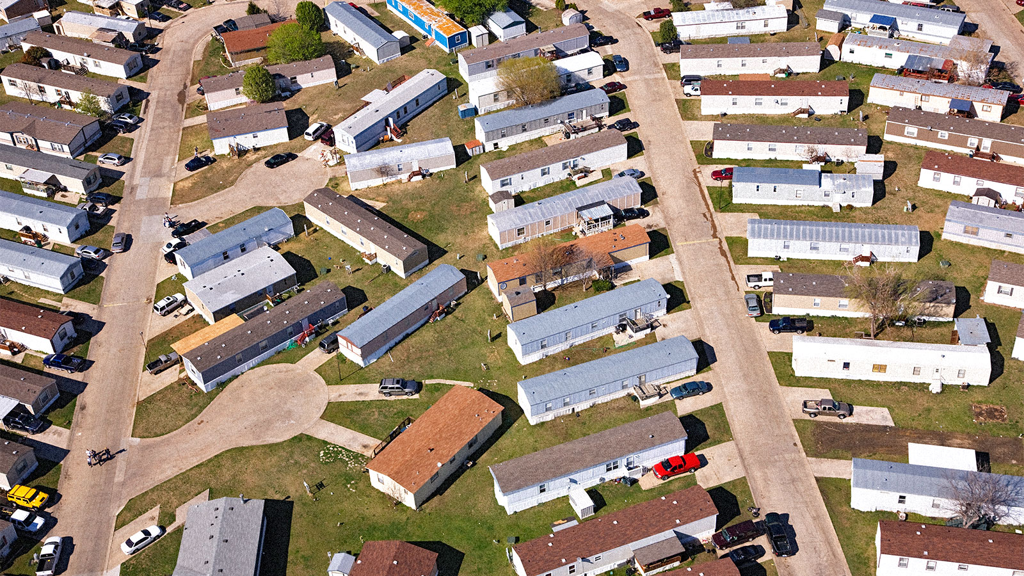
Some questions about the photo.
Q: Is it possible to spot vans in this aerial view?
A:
Yes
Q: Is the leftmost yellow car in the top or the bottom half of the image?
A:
bottom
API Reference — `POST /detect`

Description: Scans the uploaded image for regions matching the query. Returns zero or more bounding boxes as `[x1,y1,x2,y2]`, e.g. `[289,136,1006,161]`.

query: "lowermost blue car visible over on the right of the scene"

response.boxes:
[670,379,710,400]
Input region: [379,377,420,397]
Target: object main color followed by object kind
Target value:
gray car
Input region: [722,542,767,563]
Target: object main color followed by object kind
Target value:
black car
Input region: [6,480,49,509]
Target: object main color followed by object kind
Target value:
yellow car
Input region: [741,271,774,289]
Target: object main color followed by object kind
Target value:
white vehicle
